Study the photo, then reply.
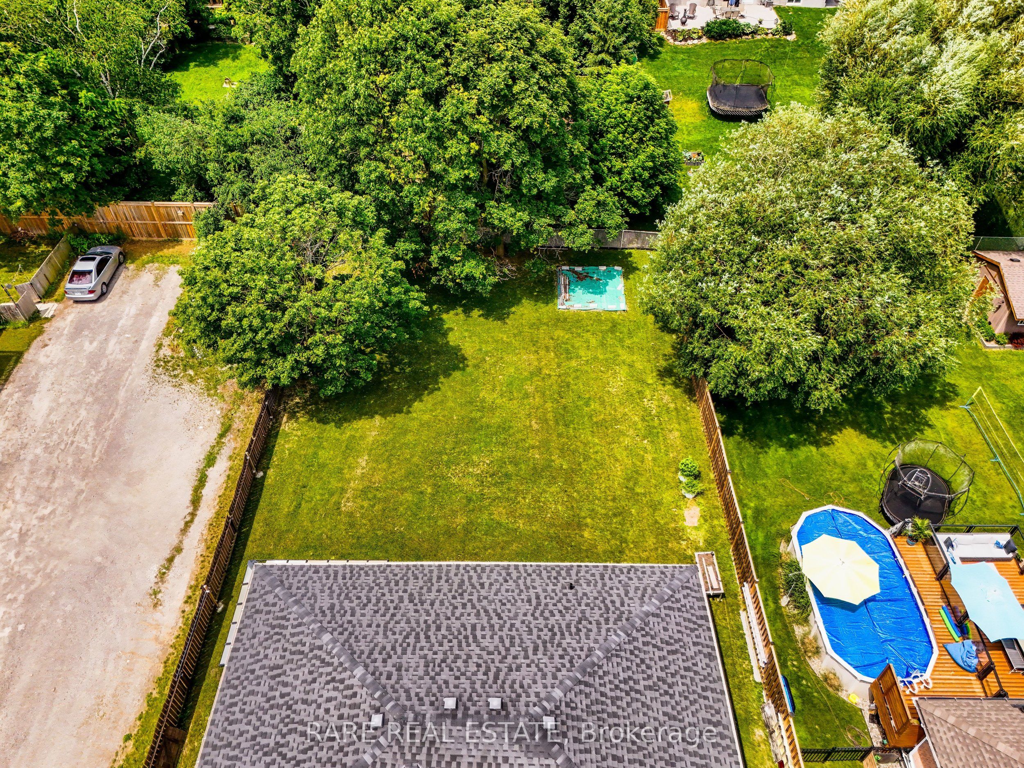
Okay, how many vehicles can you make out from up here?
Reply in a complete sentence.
In total, there is 1 vehicle in the scene.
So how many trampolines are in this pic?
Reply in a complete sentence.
My tally gives 2 trampolines in this view.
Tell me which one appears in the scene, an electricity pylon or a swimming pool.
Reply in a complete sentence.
Visible in the photo is a swimming pool.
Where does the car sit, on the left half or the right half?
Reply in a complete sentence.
The car appears in the left half of the scene.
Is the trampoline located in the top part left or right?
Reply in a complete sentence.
The trampoline located in the top part sits on the right side.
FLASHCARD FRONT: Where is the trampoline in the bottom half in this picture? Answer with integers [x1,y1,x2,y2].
[874,437,975,534]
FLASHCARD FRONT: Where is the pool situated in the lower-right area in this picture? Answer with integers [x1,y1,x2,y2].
[782,504,940,703]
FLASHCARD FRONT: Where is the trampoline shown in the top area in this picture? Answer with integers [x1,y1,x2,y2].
[702,60,779,124]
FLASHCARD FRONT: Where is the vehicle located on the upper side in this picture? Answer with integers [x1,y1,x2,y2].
[57,243,125,306]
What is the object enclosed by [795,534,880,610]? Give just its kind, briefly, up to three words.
umbrella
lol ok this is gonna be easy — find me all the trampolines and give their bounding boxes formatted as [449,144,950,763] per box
[874,437,975,534]
[702,60,779,124]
